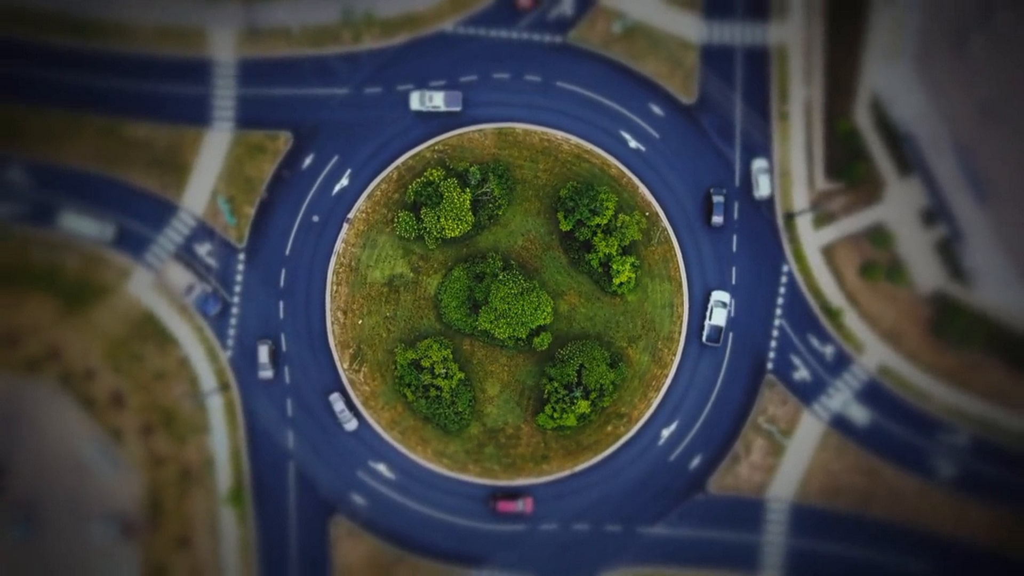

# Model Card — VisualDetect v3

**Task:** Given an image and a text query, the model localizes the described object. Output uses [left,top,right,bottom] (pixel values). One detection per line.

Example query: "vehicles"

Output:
[53,209,130,244]
[748,157,773,202]
[254,339,277,380]
[827,391,872,428]
[327,390,360,433]
[701,290,731,348]
[491,493,534,516]
[409,88,464,114]
[708,187,728,228]
[153,255,232,319]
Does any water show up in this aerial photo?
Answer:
No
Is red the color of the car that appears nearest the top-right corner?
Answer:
No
